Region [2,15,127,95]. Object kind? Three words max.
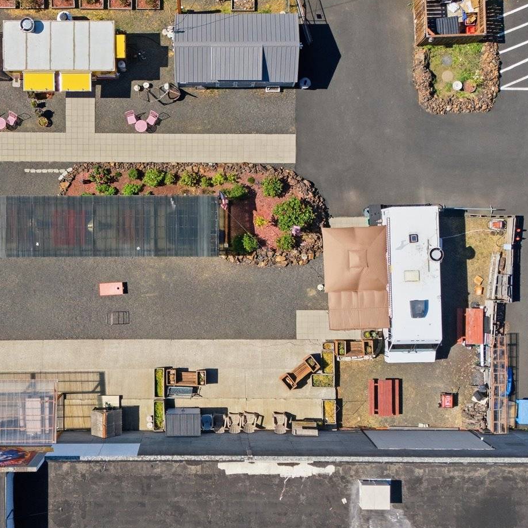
trailer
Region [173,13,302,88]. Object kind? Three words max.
building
